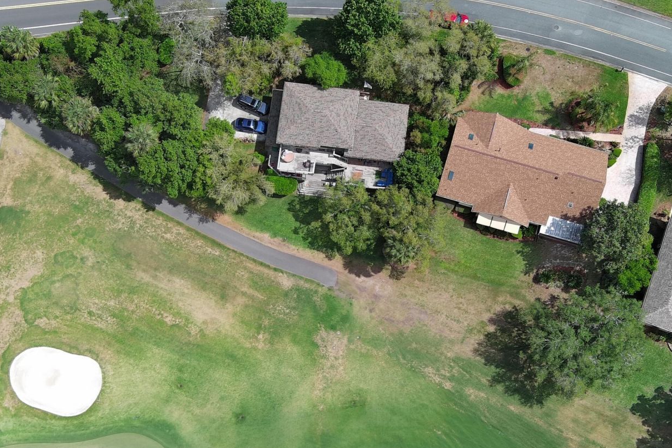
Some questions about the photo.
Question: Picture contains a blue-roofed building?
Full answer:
No, I can't see a single blue-roofed building in this photo.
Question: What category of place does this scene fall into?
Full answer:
This looks like a golf course.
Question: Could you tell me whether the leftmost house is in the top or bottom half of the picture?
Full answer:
Seen from above, the leftmost house lies in the top half of the view.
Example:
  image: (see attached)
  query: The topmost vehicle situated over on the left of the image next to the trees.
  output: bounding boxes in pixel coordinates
[237,94,269,115]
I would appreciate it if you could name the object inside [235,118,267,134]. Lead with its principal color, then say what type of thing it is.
blue car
